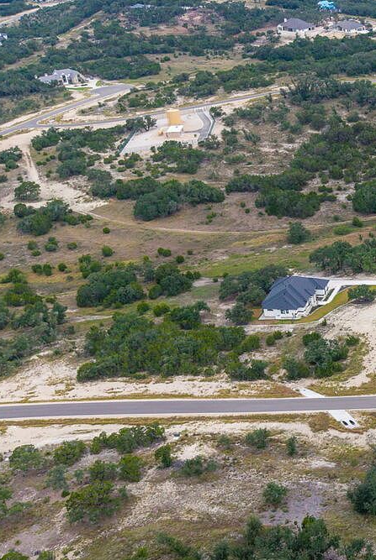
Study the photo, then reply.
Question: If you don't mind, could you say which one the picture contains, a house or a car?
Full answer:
I can see a house in this picture.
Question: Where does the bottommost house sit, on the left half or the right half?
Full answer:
You can find the bottommost house on the right side of the picture.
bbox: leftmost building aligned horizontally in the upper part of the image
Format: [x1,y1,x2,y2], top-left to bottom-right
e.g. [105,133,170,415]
[46,69,91,85]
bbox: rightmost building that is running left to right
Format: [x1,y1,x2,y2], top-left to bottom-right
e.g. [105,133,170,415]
[332,20,371,34]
